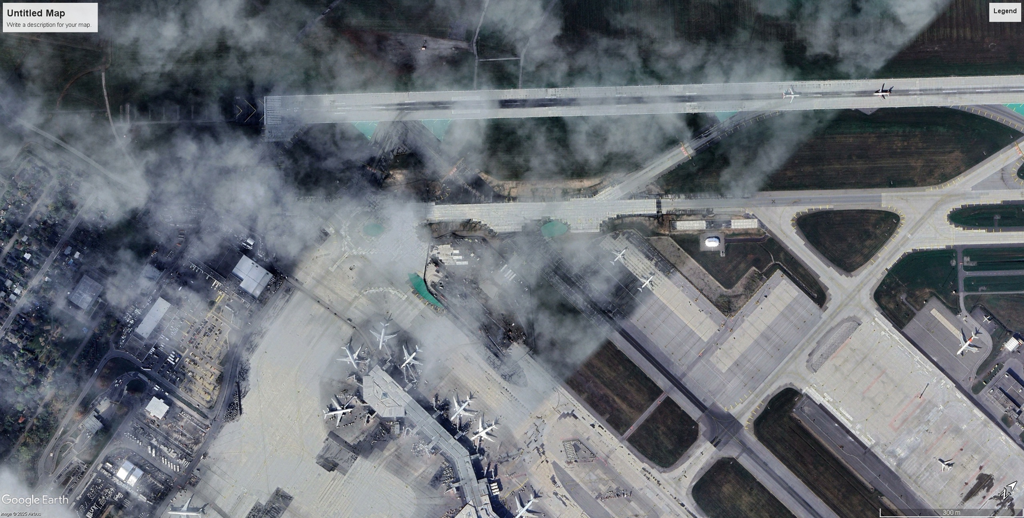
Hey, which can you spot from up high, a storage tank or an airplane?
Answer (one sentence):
Visible in the photo is an airplane.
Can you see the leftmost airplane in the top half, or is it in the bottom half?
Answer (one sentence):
The leftmost airplane sits in the bottom half of the picture.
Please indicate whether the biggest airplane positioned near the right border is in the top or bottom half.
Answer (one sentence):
You can find the biggest airplane positioned near the right border in the bottom half.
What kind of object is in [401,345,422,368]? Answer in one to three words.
airplane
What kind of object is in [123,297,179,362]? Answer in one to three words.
building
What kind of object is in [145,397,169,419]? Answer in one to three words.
building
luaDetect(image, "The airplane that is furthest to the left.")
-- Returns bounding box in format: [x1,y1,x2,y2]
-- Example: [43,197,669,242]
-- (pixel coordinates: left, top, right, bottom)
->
[167,498,201,518]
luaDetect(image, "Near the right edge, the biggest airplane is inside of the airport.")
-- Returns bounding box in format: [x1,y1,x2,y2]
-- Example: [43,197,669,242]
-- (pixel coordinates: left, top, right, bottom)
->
[957,328,981,355]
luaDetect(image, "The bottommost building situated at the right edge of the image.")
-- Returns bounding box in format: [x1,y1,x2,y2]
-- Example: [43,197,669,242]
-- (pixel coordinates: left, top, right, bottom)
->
[988,372,1024,424]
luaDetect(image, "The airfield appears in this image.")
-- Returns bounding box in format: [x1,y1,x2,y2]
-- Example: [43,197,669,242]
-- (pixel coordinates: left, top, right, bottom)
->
[168,75,1024,518]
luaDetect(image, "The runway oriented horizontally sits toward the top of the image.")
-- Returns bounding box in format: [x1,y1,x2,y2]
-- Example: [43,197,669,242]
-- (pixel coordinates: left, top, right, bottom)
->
[236,75,1024,124]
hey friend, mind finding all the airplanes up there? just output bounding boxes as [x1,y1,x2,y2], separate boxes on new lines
[874,84,891,100]
[939,460,953,471]
[322,399,353,427]
[636,276,653,292]
[401,345,422,368]
[471,417,499,442]
[167,498,201,518]
[451,393,475,421]
[609,248,627,265]
[783,87,800,102]
[337,343,360,369]
[957,328,981,355]
[514,494,539,518]
[369,321,397,350]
